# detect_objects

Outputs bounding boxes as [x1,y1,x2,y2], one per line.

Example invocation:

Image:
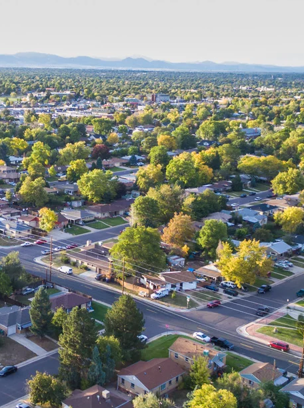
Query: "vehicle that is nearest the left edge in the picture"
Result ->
[0,366,19,379]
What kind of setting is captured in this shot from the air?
residential area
